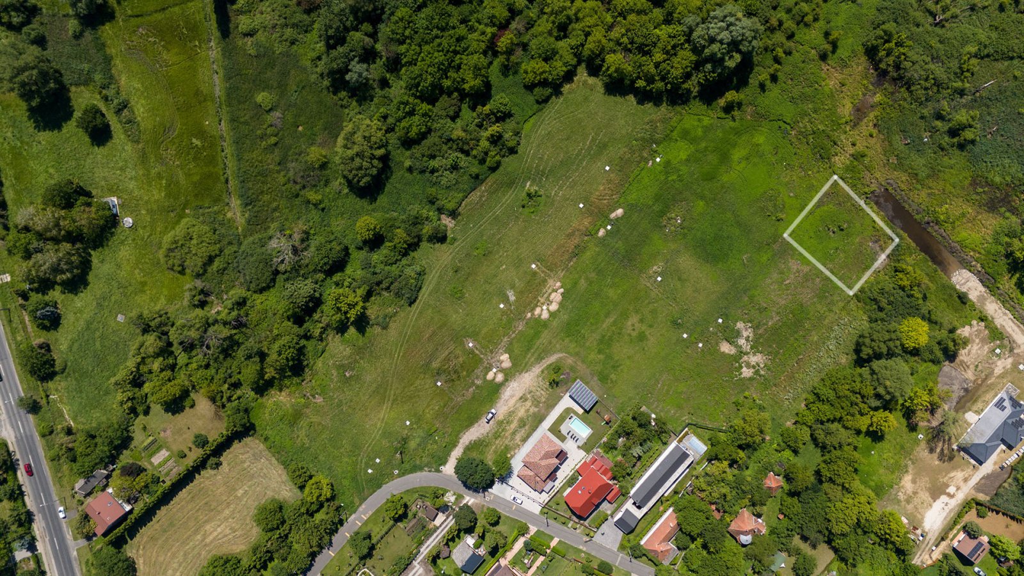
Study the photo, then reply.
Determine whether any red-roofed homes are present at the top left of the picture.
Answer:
No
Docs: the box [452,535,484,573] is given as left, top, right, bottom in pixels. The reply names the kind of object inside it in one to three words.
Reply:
house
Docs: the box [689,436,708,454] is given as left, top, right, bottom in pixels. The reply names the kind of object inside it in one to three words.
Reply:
swimming pool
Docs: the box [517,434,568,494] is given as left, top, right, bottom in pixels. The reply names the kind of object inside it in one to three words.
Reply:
house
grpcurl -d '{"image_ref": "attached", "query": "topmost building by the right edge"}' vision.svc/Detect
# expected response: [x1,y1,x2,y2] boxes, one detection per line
[953,384,1024,467]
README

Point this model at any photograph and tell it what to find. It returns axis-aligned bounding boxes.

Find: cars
[25,463,33,476]
[973,565,985,576]
[59,506,67,519]
[510,495,523,504]
[485,409,496,423]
